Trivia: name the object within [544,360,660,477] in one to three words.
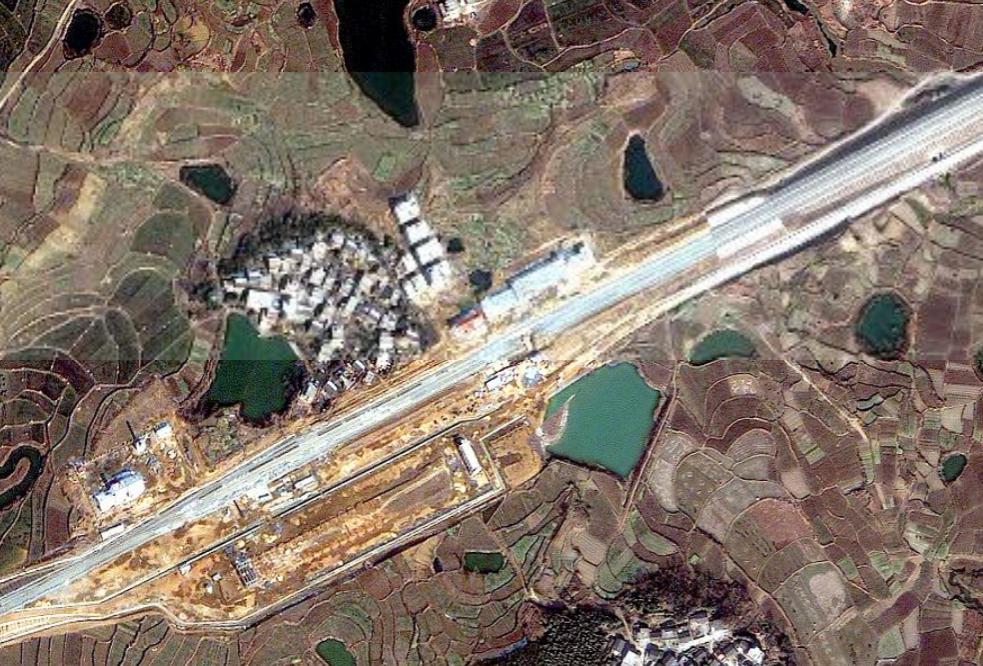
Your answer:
pond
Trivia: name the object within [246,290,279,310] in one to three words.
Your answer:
building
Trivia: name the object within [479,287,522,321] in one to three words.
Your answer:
shed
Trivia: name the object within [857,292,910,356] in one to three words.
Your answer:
pond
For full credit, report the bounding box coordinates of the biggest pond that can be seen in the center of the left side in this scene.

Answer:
[207,313,304,420]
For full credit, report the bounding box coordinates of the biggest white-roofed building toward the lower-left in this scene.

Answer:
[93,475,142,511]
